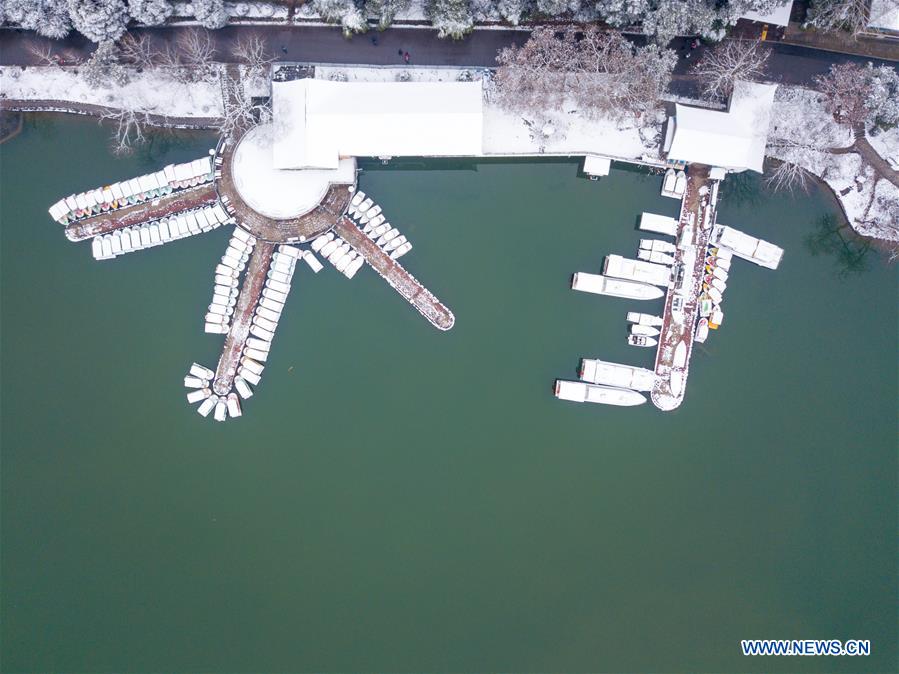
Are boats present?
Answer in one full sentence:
Yes, there's a boat down there.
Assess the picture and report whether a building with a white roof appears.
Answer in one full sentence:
Yes, a building with a white roof appears in the view.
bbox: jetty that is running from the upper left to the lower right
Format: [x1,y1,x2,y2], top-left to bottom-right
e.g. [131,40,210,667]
[331,214,454,331]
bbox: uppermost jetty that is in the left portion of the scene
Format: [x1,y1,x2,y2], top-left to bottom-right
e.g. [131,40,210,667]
[61,184,219,243]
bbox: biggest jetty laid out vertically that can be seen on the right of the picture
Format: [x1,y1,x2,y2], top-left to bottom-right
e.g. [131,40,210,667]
[650,164,720,412]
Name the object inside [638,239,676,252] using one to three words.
boat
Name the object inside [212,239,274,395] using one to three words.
pier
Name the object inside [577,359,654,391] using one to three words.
boat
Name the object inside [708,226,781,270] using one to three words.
vessel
